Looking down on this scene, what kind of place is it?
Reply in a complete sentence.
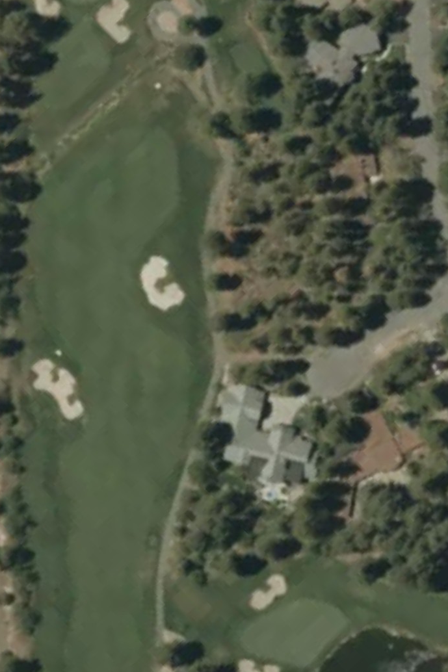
The area seen from above is a golf course.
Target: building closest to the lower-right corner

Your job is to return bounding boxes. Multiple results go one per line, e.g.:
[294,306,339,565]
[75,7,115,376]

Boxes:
[353,411,424,482]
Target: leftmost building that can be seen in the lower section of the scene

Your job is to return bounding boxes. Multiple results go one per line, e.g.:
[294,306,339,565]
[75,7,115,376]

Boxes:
[221,391,312,482]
